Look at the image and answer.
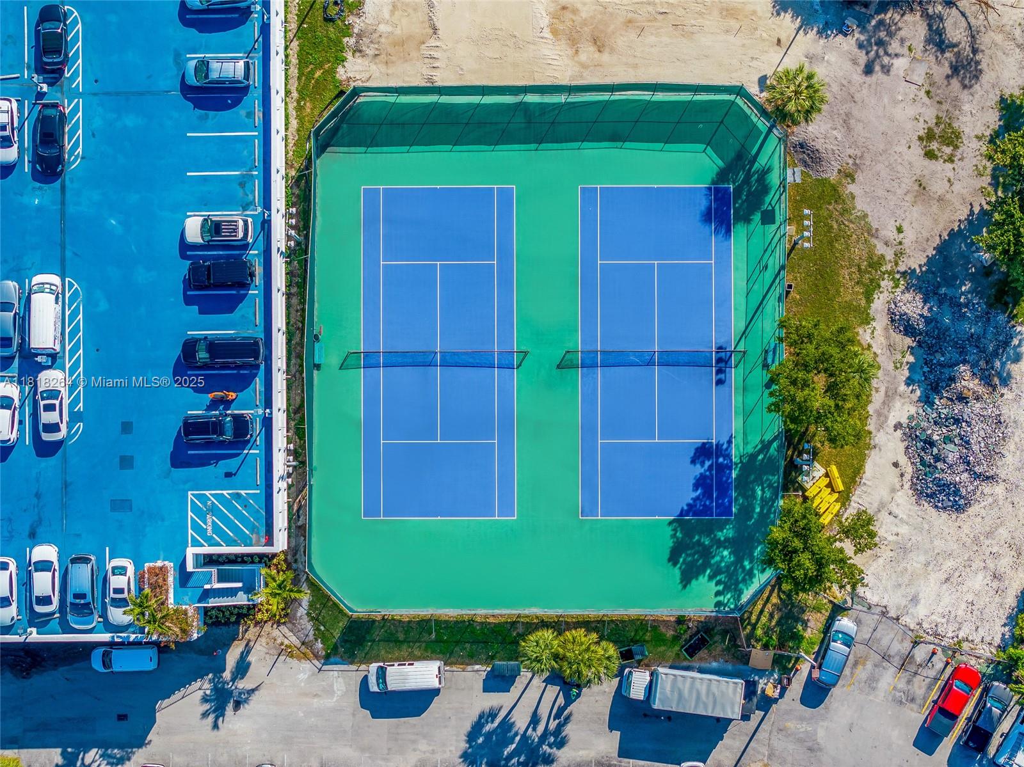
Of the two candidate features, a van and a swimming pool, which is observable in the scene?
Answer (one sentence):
I can see a van in this picture.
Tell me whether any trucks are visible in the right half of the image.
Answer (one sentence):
Yes, I can see a truck in the right half of the image.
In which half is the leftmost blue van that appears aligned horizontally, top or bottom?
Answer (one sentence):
The bottom half of the photo is where the leftmost blue van that appears aligned horizontally is.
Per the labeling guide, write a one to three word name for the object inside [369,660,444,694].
van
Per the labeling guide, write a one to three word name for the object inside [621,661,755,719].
truck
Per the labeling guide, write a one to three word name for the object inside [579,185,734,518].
tennis court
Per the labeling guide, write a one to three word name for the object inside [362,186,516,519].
tennis court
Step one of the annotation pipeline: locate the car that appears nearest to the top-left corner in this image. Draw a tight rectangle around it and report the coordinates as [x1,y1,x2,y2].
[35,5,69,69]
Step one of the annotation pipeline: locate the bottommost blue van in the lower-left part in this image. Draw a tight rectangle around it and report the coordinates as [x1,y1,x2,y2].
[91,643,158,675]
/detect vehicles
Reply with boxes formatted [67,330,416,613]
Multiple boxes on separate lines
[621,661,755,719]
[0,381,23,446]
[33,104,69,176]
[189,256,256,289]
[957,679,1012,759]
[91,643,158,675]
[369,660,444,694]
[27,274,65,354]
[680,761,705,767]
[206,390,238,401]
[812,614,858,691]
[104,559,137,624]
[0,98,22,166]
[0,280,23,357]
[185,212,253,247]
[185,55,252,89]
[35,5,69,69]
[182,334,264,369]
[0,557,20,625]
[27,543,62,613]
[925,661,981,741]
[182,410,254,445]
[35,370,70,441]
